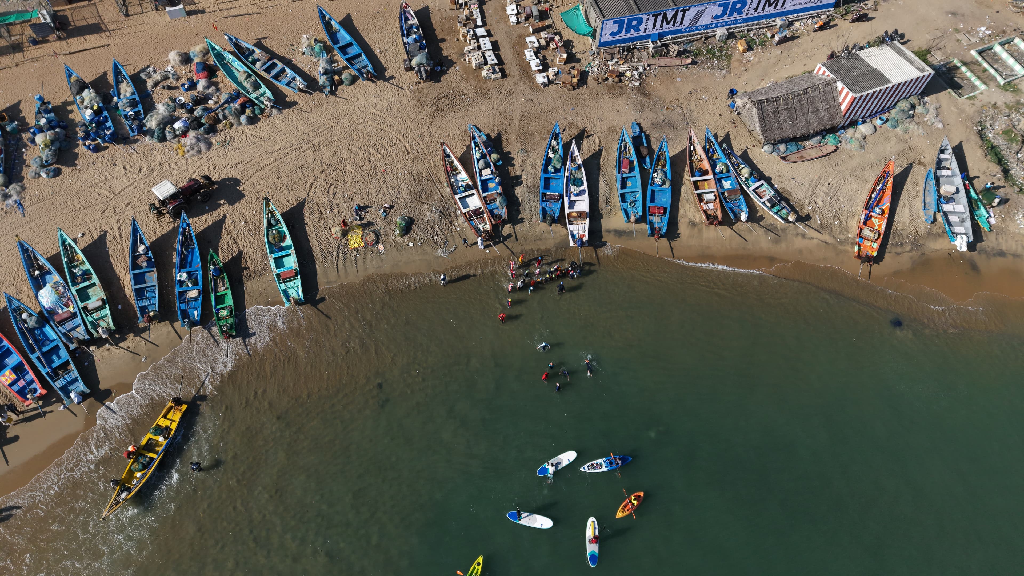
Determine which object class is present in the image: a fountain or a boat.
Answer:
boat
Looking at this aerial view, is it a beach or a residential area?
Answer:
beach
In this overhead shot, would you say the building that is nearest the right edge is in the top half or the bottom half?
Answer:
top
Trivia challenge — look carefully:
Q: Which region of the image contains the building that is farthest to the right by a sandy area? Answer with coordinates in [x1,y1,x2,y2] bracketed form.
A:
[820,36,938,120]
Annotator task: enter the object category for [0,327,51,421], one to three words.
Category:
boat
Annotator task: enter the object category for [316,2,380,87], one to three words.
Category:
boat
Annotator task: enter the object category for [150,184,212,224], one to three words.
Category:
work vehicle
